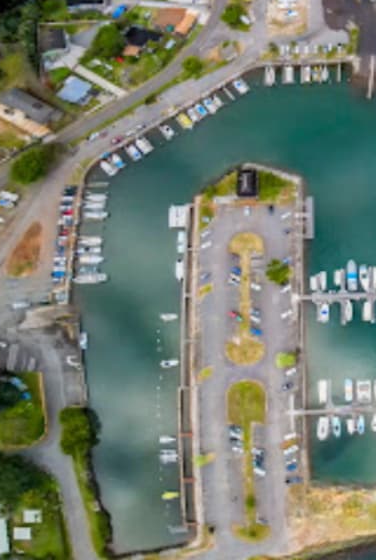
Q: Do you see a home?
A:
Yes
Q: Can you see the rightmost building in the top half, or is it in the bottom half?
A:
top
